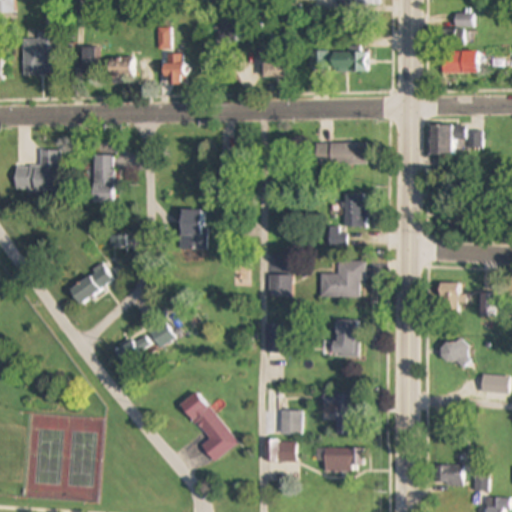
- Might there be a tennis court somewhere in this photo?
Yes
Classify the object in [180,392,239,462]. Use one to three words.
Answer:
house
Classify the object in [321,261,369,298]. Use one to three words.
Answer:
house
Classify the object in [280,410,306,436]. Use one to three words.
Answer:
building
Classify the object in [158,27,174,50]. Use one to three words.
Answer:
building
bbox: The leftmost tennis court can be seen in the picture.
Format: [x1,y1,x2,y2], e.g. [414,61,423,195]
[26,414,68,499]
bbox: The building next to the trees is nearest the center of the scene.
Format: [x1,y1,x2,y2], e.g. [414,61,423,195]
[268,274,295,297]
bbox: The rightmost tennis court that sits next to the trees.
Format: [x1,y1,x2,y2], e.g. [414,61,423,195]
[63,416,104,502]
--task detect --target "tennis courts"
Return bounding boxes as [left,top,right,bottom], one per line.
[26,414,68,499]
[63,416,104,502]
